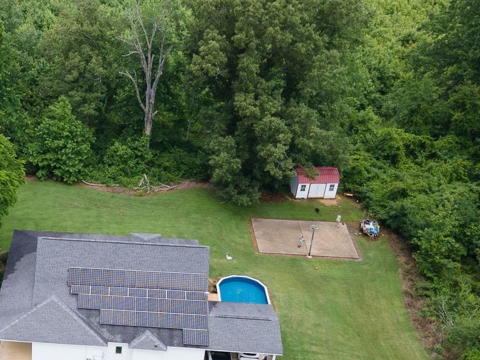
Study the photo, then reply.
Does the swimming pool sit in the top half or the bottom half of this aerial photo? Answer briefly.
bottom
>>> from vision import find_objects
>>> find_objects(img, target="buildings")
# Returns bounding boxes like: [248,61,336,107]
[0,231,284,360]
[288,166,340,198]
